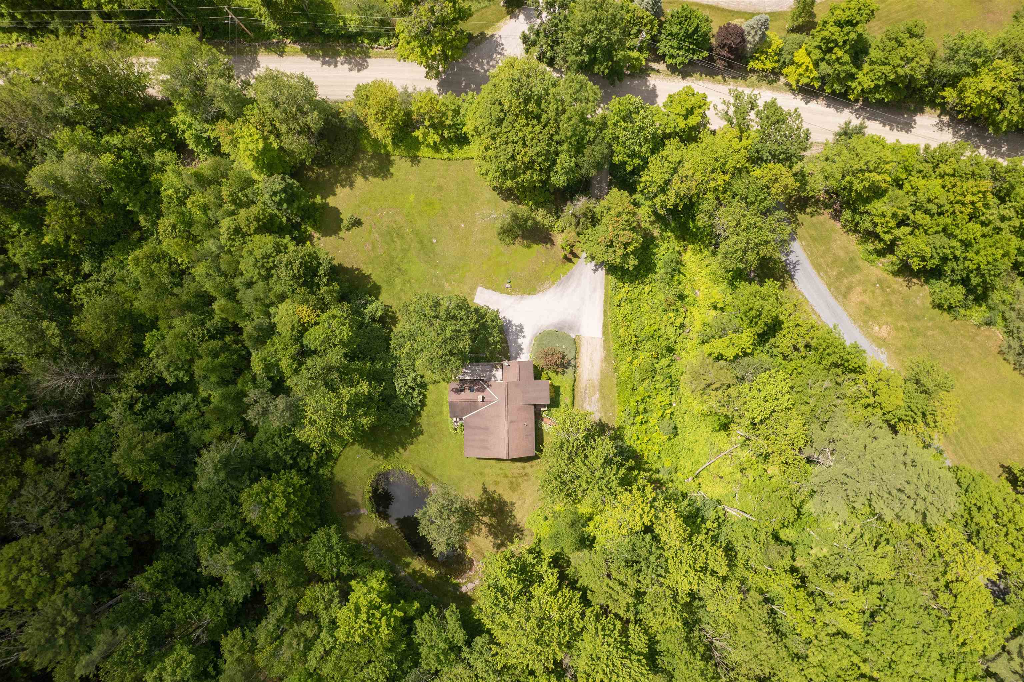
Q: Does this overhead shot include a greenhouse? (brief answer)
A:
No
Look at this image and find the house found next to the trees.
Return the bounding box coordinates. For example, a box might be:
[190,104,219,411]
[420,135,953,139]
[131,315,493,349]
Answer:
[449,360,558,459]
